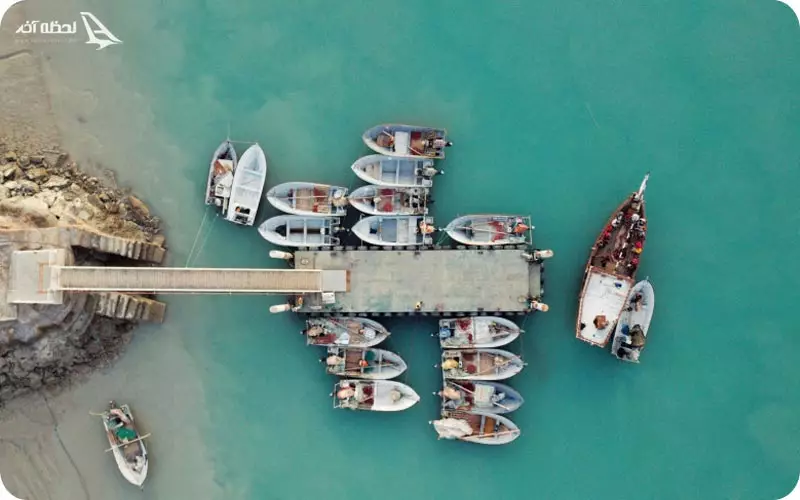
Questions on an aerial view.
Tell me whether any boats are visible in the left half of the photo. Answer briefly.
Yes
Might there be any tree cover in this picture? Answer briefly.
No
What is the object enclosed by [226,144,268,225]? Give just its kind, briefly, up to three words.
boat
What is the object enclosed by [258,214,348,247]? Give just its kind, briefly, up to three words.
boat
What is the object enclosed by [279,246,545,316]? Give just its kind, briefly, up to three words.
pier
